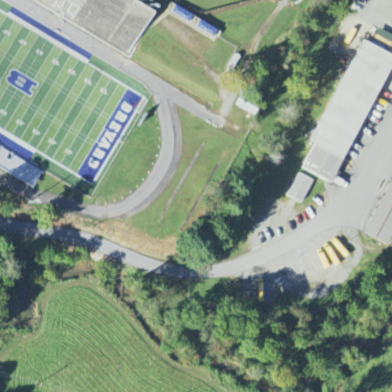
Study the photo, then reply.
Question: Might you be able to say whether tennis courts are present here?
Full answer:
No, no tennis court is visible in the view.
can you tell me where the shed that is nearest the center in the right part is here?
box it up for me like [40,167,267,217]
[286,171,316,204]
